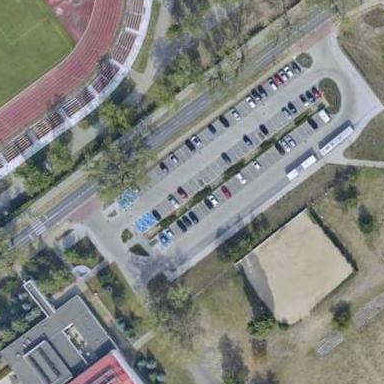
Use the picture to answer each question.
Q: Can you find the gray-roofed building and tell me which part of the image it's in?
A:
bottom left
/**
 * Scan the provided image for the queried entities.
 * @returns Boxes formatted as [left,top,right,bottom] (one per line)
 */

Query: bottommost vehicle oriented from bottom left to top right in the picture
[286,155,316,181]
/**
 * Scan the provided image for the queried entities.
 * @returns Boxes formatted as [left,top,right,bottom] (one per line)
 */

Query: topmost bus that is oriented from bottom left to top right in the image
[319,126,356,157]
